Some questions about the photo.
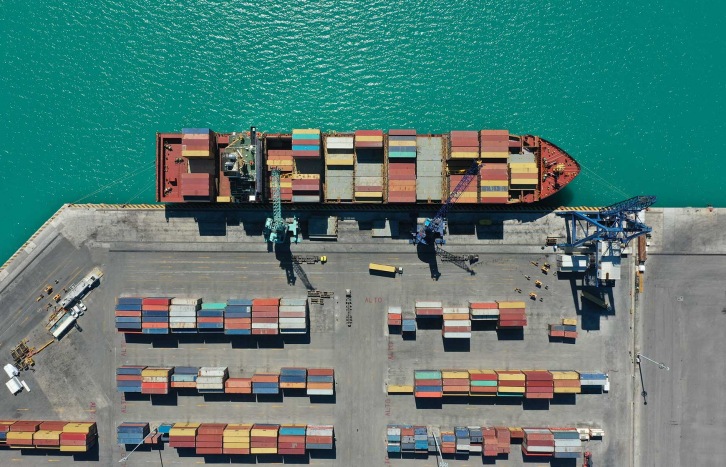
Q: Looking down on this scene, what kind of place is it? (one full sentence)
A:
The picture captures a port.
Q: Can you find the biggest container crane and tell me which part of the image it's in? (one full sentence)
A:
You can find the biggest container crane in the right area of the picture.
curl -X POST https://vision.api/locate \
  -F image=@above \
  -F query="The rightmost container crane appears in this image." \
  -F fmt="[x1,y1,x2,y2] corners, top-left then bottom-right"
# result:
[555,195,659,290]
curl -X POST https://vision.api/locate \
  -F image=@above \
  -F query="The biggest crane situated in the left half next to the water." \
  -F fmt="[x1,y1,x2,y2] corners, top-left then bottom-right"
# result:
[265,167,301,247]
